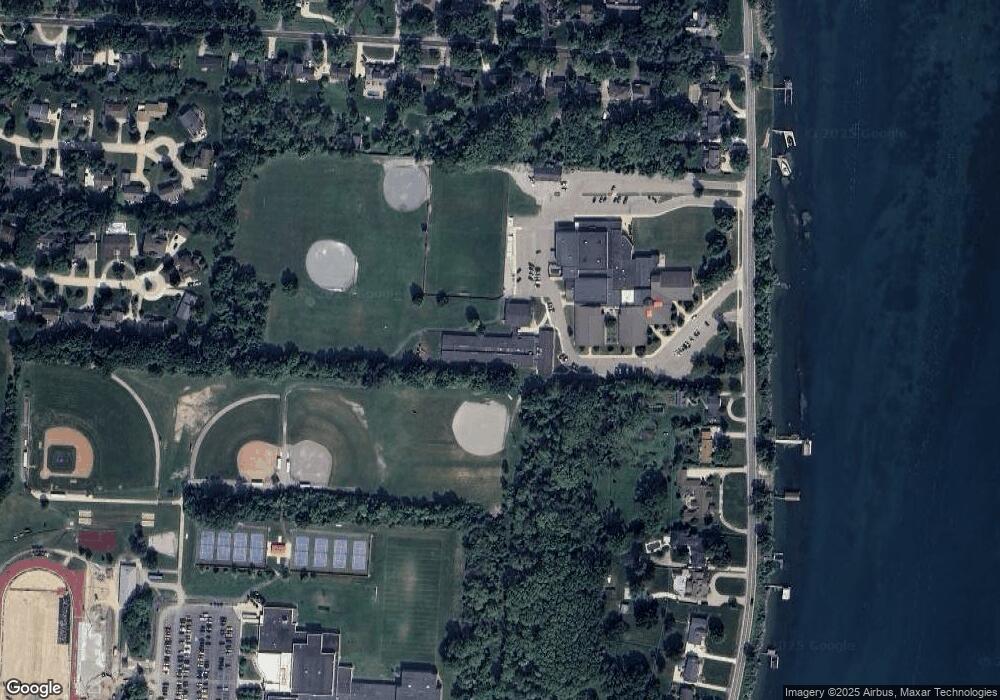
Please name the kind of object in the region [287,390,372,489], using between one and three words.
baseball field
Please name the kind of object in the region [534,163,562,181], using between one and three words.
building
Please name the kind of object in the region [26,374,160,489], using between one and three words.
baseball field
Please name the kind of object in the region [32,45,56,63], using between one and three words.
house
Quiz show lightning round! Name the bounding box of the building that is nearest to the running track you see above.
[119,565,136,610]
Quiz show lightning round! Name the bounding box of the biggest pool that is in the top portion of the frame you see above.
[364,79,385,99]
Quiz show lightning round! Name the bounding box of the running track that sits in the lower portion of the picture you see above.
[0,559,86,700]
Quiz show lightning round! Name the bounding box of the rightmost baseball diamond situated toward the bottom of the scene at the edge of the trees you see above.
[452,401,508,456]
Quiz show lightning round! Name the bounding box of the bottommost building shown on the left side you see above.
[242,608,438,700]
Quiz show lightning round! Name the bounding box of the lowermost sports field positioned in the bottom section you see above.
[376,533,461,664]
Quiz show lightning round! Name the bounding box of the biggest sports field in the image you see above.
[237,154,500,350]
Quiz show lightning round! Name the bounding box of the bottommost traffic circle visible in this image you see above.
[138,268,169,301]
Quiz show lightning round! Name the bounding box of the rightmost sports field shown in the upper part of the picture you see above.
[425,164,507,296]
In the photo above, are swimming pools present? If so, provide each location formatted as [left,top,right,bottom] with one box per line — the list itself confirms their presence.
[364,79,385,99]
[646,539,662,552]
[107,223,127,233]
